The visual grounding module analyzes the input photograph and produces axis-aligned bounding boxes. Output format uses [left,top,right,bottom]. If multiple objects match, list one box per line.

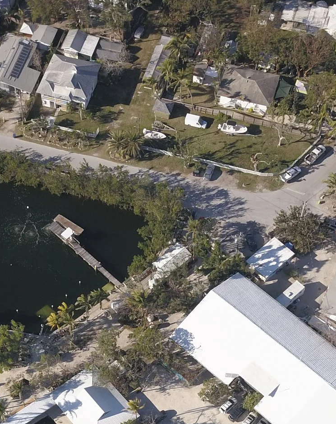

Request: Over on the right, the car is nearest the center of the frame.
[203,165,215,182]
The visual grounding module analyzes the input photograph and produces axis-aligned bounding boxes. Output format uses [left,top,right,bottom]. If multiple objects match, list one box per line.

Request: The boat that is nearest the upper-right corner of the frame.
[217,118,250,135]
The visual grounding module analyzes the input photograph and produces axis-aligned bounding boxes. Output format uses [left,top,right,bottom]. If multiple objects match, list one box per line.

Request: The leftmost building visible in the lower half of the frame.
[53,368,140,424]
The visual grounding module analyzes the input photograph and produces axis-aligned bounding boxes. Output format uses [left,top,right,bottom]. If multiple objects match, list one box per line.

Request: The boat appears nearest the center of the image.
[142,124,169,140]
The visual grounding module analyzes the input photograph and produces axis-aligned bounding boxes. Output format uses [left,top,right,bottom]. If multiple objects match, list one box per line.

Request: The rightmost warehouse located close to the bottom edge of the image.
[171,273,336,424]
